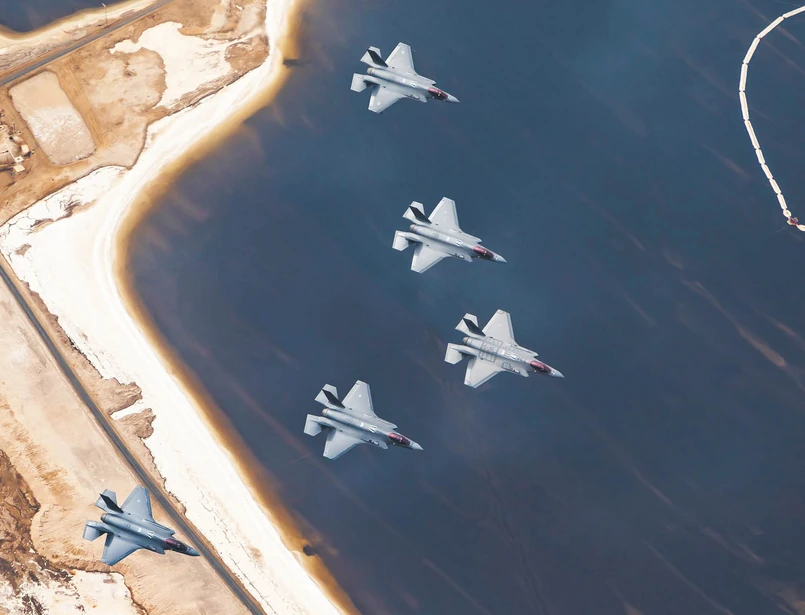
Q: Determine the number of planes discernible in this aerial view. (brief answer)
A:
5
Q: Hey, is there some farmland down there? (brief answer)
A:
No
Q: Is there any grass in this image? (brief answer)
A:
No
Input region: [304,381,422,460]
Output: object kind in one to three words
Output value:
airplane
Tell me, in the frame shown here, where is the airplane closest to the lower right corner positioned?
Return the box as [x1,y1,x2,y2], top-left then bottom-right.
[445,310,563,388]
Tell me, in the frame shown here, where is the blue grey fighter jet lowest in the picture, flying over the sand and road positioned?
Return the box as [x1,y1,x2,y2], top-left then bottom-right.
[83,486,199,565]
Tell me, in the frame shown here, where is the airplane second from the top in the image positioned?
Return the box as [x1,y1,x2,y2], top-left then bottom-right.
[393,197,505,273]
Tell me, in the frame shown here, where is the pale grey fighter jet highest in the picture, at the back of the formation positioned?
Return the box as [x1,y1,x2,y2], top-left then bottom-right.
[351,42,458,113]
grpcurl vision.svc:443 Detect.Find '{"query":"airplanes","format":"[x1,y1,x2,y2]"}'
[304,381,422,460]
[83,486,199,565]
[445,310,563,388]
[393,197,505,273]
[351,42,458,113]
